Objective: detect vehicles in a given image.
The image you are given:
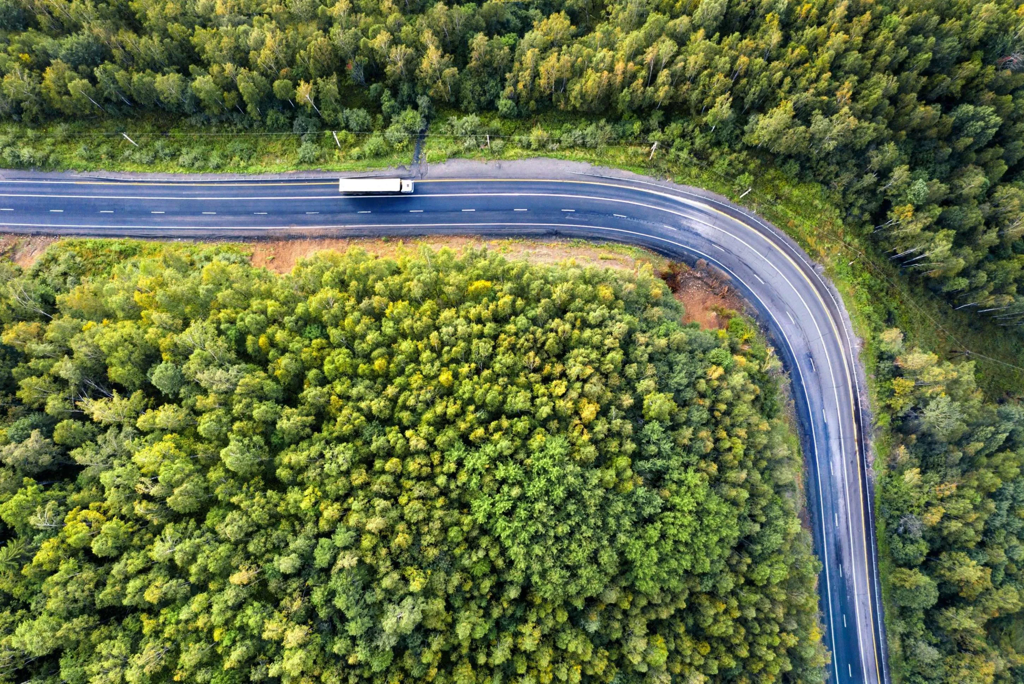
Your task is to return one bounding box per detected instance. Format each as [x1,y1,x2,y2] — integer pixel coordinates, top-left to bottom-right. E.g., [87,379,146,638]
[340,179,415,196]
